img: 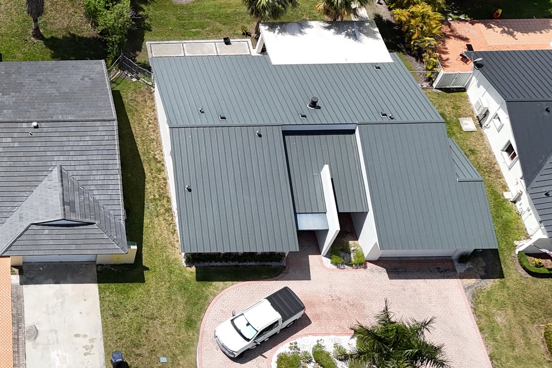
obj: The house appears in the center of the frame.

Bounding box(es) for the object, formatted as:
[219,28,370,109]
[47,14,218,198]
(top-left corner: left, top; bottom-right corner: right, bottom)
[149,52,498,262]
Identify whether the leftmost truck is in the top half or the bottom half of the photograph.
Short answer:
bottom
